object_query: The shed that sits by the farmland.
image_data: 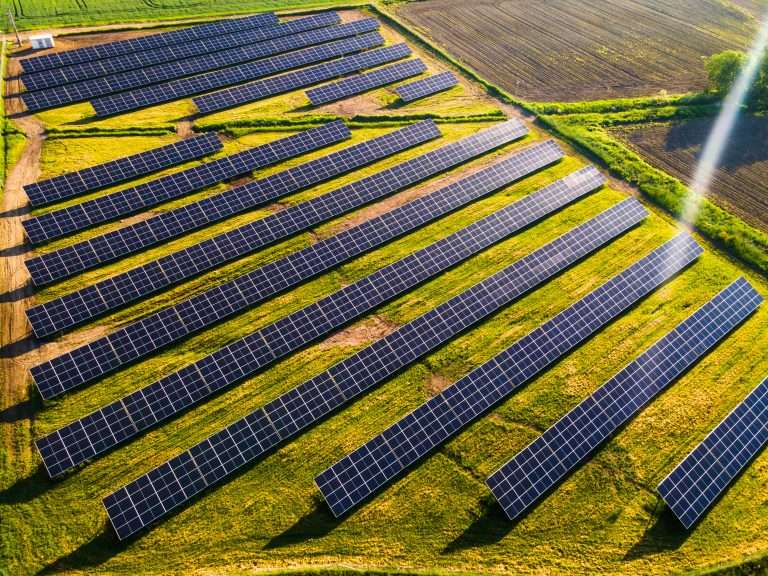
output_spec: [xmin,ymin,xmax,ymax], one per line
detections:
[28,33,56,49]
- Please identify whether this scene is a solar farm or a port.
solar farm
